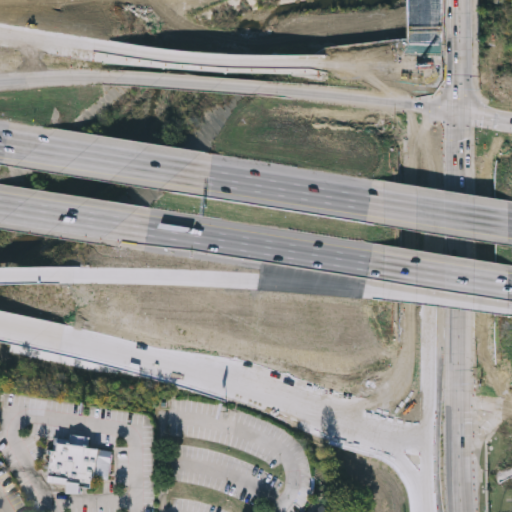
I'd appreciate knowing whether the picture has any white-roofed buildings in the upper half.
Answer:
No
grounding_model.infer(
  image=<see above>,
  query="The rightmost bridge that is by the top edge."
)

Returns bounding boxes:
[404,0,442,54]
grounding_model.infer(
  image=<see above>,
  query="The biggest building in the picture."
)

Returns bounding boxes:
[46,435,112,494]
